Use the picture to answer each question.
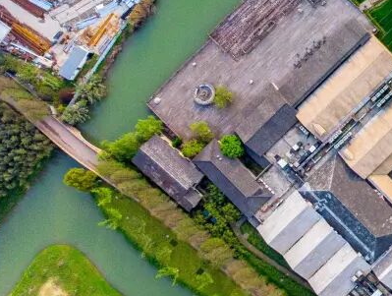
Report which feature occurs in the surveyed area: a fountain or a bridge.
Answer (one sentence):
The image shows a bridge.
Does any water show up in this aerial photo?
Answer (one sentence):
Yes, water shows up in the scene.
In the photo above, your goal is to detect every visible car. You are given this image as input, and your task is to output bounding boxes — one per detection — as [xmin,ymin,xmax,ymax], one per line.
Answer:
[50,27,64,42]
